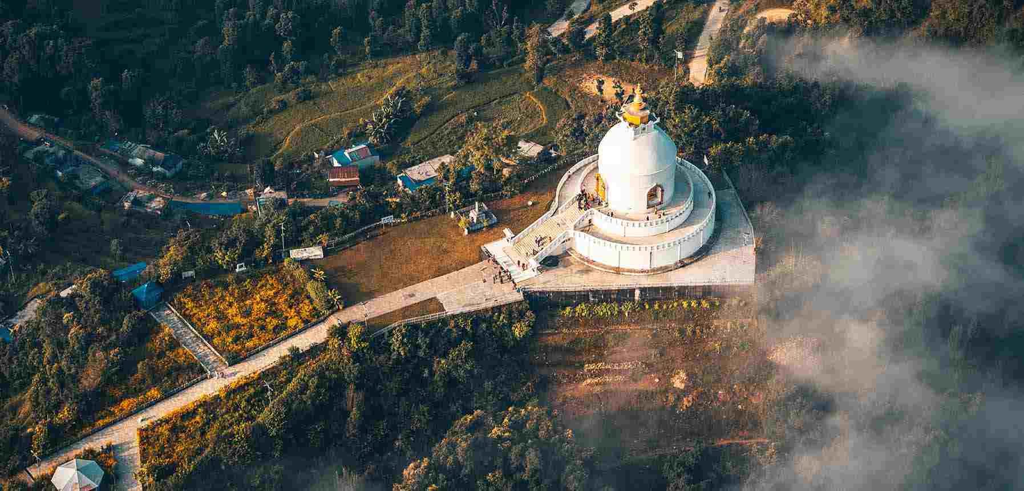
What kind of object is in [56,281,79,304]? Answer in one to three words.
shed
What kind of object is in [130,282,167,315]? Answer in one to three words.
building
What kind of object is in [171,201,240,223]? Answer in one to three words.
shed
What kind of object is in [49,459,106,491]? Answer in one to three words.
gazebo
